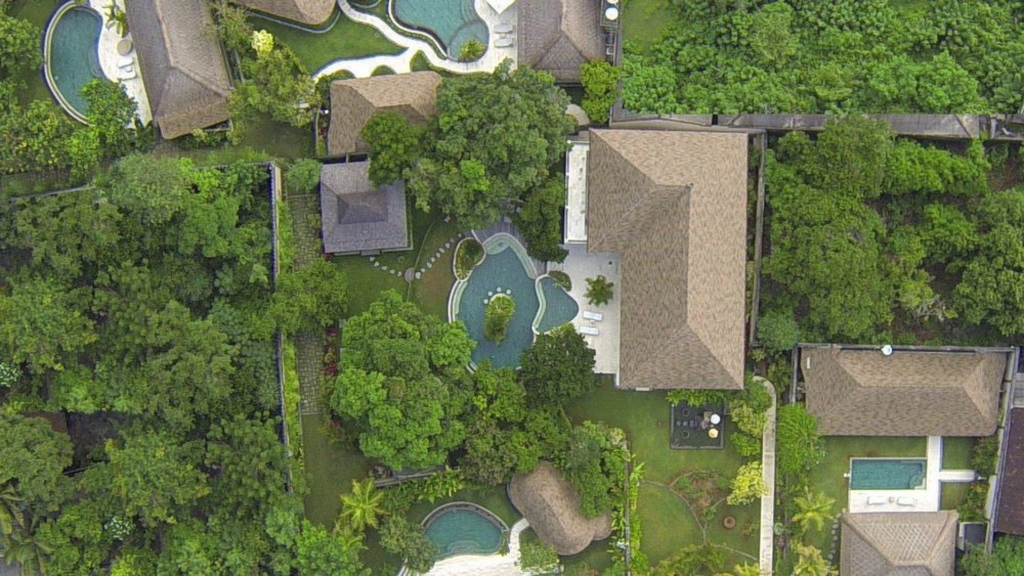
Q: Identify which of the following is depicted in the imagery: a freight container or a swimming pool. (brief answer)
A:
swimming pool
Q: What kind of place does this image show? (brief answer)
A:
residential area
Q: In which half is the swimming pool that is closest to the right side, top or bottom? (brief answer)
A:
bottom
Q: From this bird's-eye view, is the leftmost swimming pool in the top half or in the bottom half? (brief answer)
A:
top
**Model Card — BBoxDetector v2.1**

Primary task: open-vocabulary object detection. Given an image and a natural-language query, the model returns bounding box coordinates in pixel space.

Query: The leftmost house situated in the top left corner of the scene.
[127,0,233,138]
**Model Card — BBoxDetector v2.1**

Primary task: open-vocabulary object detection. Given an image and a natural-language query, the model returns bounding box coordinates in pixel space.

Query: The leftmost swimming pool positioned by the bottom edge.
[421,501,510,564]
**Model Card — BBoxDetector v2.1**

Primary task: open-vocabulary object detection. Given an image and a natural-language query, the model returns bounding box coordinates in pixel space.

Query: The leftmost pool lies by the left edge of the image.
[41,0,115,126]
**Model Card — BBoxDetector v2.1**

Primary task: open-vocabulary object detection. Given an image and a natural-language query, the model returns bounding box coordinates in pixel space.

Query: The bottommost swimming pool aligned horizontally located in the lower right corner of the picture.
[850,458,928,492]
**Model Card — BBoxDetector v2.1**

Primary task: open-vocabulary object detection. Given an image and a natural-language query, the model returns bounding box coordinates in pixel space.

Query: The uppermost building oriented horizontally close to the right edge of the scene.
[801,348,1006,437]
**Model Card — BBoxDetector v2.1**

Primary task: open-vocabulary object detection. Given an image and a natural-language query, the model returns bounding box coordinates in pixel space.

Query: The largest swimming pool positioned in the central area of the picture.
[448,231,540,372]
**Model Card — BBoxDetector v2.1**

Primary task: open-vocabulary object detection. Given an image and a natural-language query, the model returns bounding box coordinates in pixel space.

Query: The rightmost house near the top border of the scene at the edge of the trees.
[518,0,609,82]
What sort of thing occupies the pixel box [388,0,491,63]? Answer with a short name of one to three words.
swimming pool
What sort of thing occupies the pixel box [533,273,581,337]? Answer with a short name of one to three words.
swimming pool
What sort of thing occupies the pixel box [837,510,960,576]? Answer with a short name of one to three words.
house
